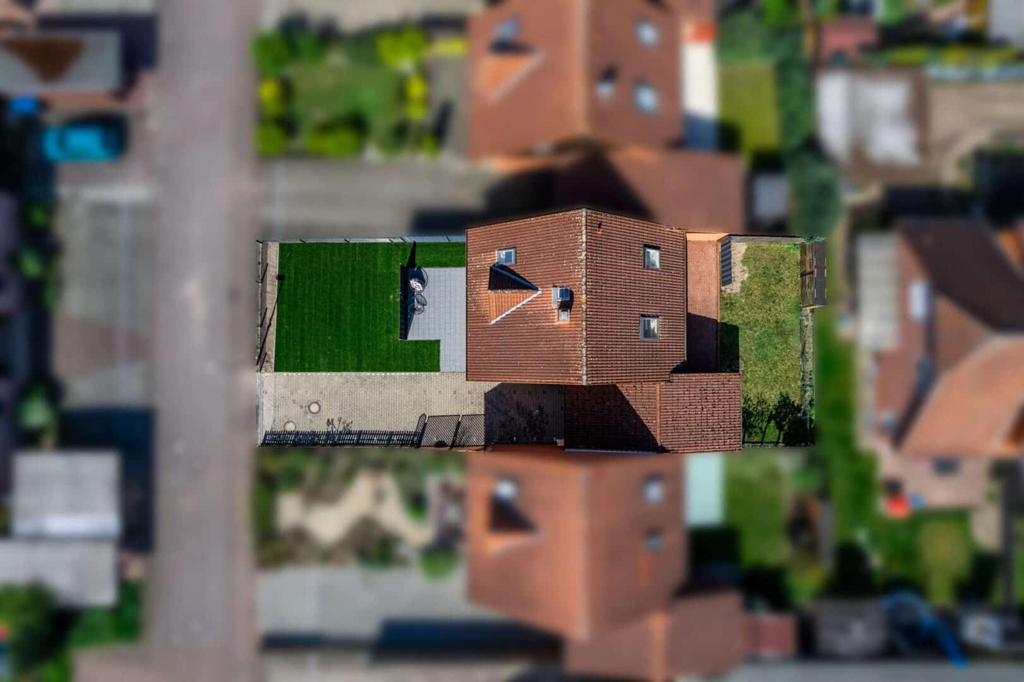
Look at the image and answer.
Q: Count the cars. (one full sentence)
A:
In total, 1 car can be seen.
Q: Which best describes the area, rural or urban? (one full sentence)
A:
From above, the setting appears urban.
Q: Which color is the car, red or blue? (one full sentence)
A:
The car is blue.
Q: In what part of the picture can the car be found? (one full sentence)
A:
The car is located in the top left region of the scene.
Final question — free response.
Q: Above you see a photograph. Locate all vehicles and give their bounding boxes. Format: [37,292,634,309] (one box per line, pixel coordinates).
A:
[48,124,122,163]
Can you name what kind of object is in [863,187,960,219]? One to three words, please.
shed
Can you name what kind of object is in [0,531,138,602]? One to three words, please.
building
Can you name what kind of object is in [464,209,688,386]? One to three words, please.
house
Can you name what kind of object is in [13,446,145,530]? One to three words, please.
building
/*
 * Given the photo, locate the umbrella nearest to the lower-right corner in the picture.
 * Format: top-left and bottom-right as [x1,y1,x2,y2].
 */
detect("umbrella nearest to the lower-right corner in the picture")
[880,491,911,517]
